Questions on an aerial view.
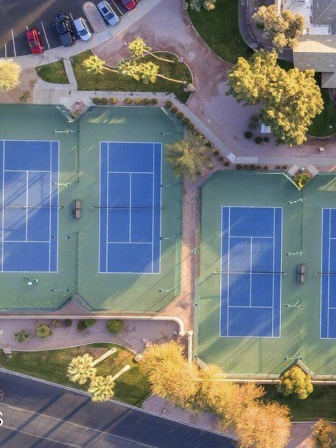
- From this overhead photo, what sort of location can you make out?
sports ground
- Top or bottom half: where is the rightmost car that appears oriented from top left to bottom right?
top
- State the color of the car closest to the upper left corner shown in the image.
red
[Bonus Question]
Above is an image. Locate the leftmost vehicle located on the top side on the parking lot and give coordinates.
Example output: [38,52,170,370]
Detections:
[25,28,45,55]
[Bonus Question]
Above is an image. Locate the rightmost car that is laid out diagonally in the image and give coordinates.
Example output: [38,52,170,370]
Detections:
[96,1,120,25]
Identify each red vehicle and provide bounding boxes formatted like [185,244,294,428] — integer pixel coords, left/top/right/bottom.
[25,28,45,55]
[119,0,135,9]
